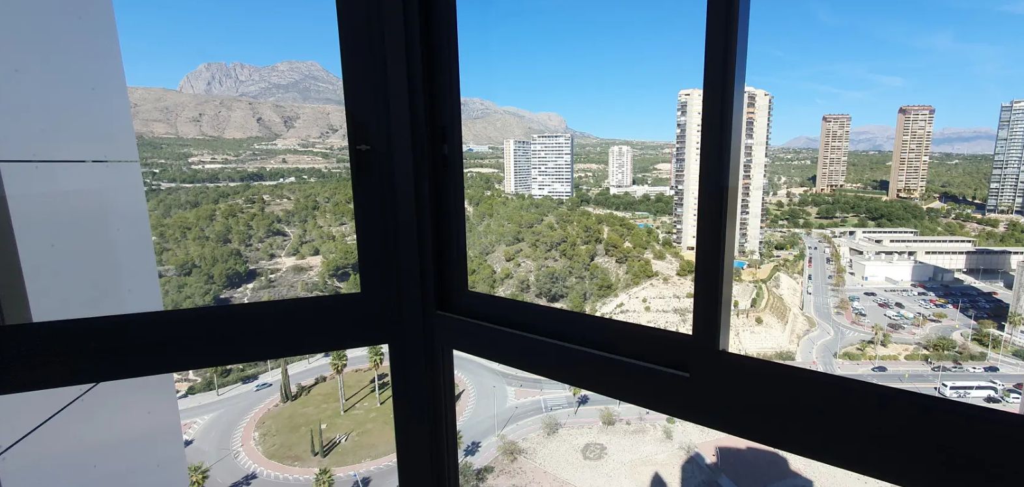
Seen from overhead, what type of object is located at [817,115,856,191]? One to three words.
building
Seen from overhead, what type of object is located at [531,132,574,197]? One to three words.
building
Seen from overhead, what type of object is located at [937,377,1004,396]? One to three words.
vehicle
